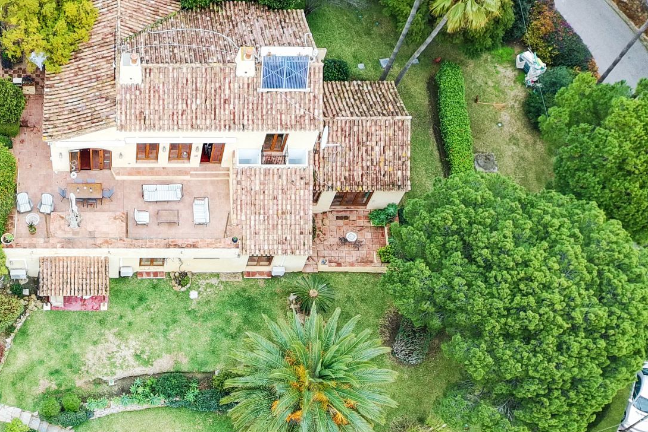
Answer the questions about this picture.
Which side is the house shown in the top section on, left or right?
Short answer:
left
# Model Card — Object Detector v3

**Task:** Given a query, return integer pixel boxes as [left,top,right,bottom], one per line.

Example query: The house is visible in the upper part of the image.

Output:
[3,0,412,285]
